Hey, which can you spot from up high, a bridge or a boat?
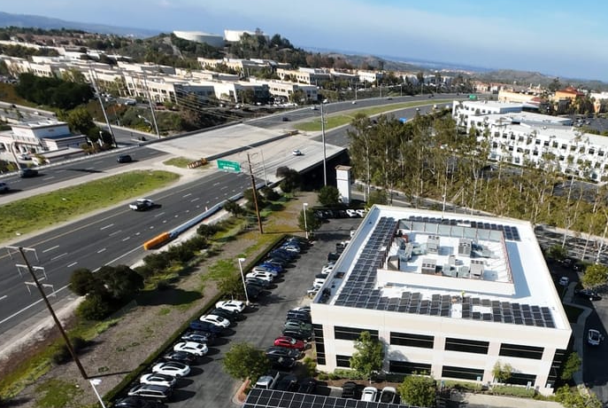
bridge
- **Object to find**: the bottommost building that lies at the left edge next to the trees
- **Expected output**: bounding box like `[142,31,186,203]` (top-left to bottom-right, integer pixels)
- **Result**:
[0,126,82,162]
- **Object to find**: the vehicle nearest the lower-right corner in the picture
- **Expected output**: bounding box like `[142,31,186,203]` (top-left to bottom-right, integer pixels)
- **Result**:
[587,330,605,345]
